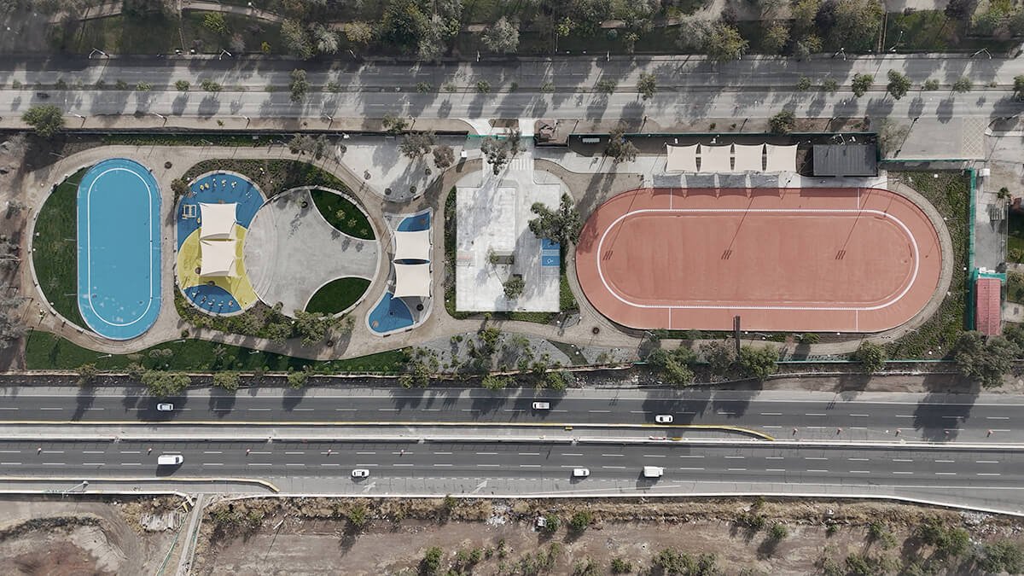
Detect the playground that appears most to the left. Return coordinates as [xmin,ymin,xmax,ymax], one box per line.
[174,170,261,317]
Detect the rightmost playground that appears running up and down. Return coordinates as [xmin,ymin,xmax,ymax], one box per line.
[366,206,435,336]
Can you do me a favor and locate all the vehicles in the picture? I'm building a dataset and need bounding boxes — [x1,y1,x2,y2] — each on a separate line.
[573,468,590,477]
[156,403,173,412]
[656,415,673,423]
[643,468,665,479]
[532,402,550,411]
[351,470,369,478]
[152,455,182,466]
